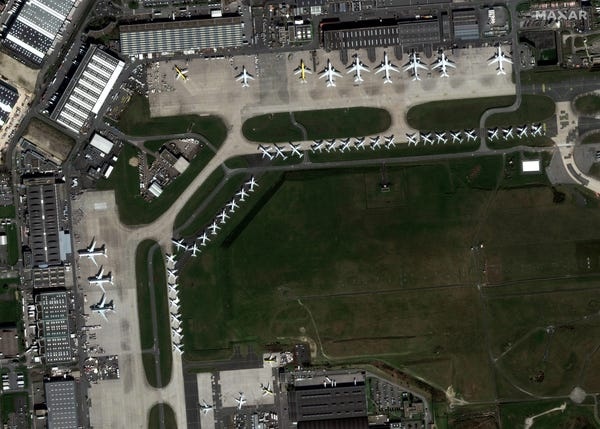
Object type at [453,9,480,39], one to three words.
hangar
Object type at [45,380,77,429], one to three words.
hangar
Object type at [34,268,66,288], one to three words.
building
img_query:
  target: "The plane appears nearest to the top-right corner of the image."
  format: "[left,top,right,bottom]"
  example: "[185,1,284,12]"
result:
[489,47,513,74]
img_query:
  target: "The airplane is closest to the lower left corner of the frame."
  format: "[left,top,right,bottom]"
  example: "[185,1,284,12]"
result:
[91,297,114,321]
